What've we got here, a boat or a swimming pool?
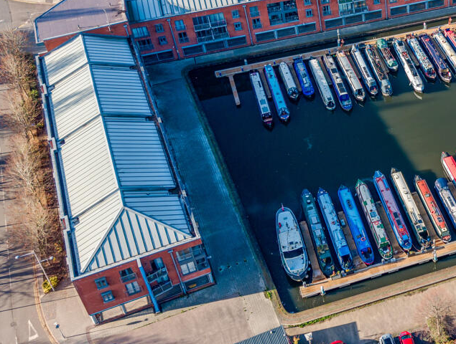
boat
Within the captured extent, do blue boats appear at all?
Yes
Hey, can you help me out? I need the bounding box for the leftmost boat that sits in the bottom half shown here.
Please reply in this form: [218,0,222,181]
[270,200,308,283]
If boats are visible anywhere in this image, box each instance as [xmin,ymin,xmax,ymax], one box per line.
[337,50,364,101]
[415,174,451,244]
[318,186,354,272]
[263,65,288,120]
[407,36,434,81]
[421,33,450,83]
[340,184,374,266]
[434,32,456,75]
[302,188,333,277]
[391,167,431,250]
[309,58,334,111]
[350,44,376,95]
[270,200,308,283]
[374,169,413,253]
[392,39,422,93]
[378,36,397,72]
[249,68,272,125]
[357,178,393,261]
[438,177,456,233]
[365,44,390,97]
[293,57,313,98]
[279,61,298,101]
[323,52,350,111]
